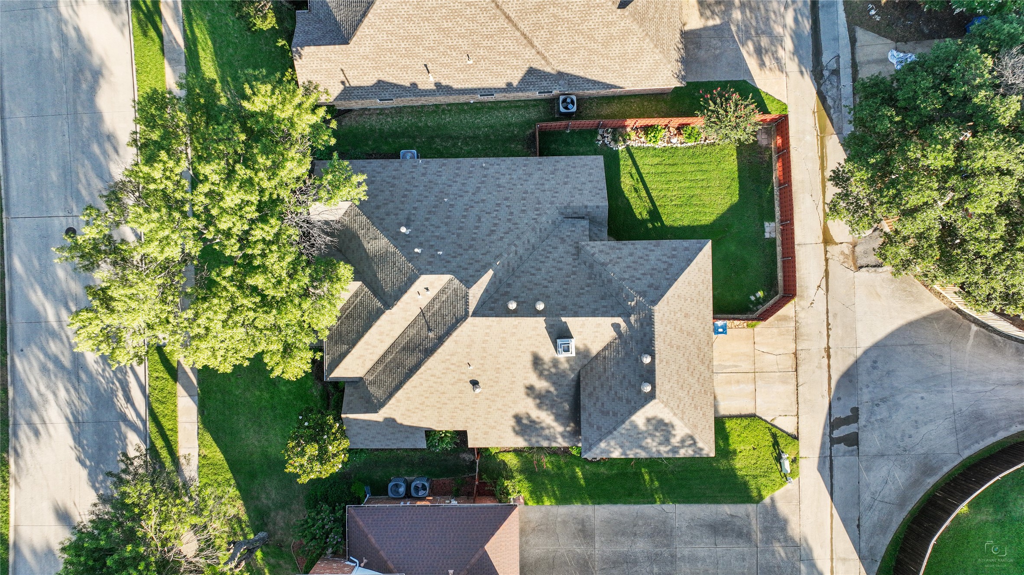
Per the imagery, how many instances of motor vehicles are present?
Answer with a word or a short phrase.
0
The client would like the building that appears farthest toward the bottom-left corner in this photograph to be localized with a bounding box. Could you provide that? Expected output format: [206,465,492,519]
[296,477,520,575]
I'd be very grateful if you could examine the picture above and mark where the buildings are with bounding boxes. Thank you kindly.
[309,155,717,460]
[296,477,520,575]
[291,0,688,109]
